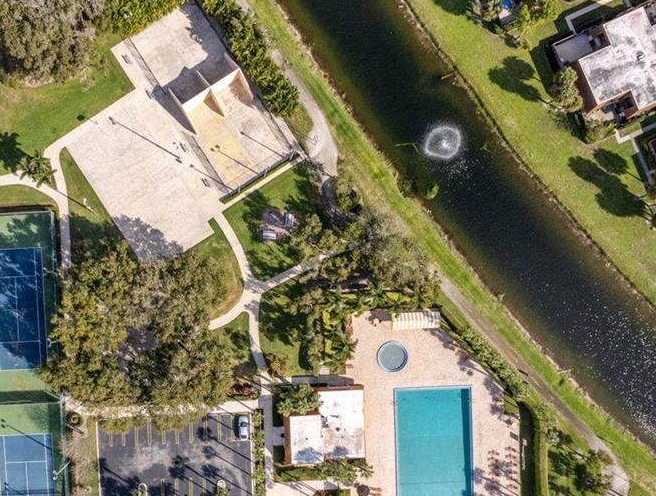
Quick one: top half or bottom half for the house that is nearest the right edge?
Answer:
top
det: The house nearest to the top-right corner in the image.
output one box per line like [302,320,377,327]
[568,8,656,116]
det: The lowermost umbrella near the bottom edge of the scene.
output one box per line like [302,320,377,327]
[356,483,370,496]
